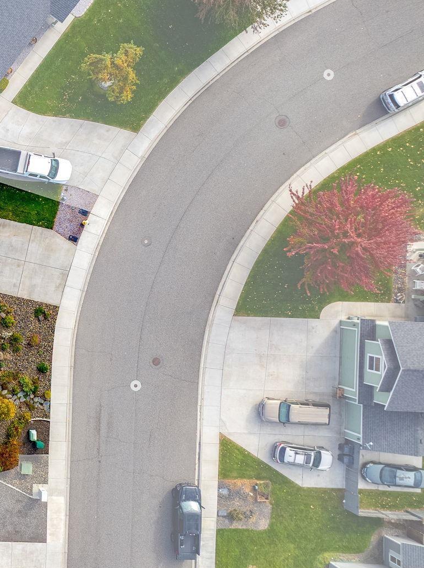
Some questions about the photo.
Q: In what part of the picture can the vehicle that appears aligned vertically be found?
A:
bottom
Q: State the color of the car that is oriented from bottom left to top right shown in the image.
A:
white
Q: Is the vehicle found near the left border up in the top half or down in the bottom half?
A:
top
